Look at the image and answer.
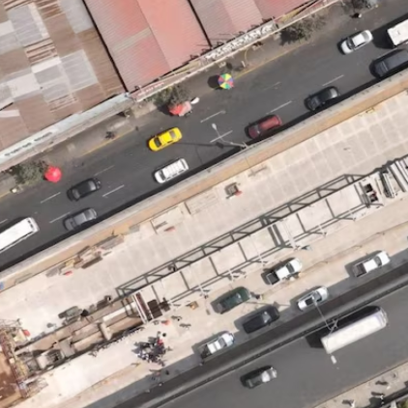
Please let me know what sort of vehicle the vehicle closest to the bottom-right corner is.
bus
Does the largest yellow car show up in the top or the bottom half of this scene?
top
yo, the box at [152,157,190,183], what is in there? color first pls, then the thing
white car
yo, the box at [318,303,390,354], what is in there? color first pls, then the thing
white bus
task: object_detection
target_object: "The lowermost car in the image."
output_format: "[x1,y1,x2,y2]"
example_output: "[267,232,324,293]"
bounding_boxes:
[242,363,279,390]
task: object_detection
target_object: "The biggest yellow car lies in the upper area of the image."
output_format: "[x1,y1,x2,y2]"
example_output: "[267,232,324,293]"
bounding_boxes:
[148,125,184,151]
